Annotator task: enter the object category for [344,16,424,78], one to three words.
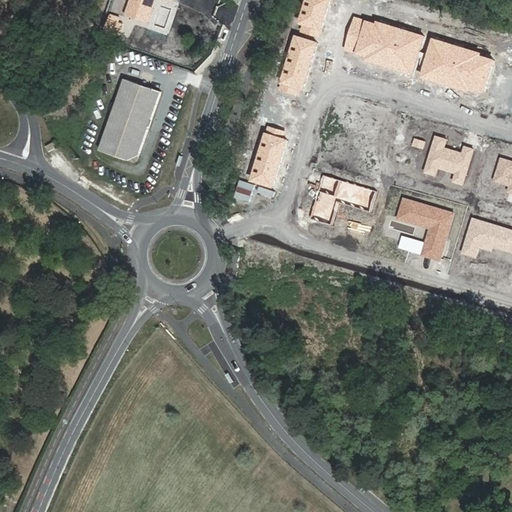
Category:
house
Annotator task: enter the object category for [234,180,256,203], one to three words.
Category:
shed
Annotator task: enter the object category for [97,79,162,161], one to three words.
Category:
building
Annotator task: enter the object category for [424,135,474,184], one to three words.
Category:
house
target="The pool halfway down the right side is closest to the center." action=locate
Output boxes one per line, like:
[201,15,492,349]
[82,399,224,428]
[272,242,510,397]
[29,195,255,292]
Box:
[390,220,415,234]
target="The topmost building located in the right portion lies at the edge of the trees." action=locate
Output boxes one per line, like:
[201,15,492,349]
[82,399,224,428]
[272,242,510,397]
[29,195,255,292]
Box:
[297,0,330,37]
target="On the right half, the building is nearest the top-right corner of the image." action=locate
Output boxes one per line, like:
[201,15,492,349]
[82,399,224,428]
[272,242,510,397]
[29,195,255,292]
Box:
[420,38,495,93]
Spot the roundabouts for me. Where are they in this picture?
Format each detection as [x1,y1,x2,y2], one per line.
[112,184,223,326]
